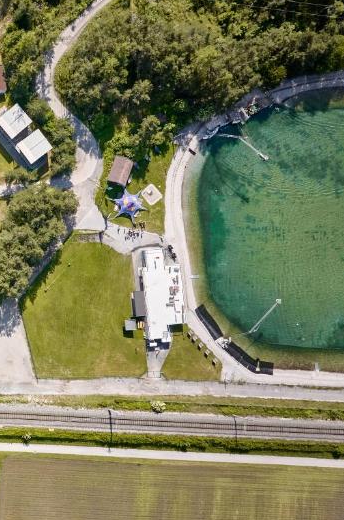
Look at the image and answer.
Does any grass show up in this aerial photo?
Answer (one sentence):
Yes, the picture does contain grass.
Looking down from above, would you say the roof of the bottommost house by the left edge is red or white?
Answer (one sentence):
The roof of the bottommost house by the left edge looks white in the image.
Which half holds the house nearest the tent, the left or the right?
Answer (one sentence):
You can find the house nearest the tent on the left side of the picture.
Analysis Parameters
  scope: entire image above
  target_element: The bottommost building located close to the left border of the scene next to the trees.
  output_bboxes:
[13,129,53,166]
